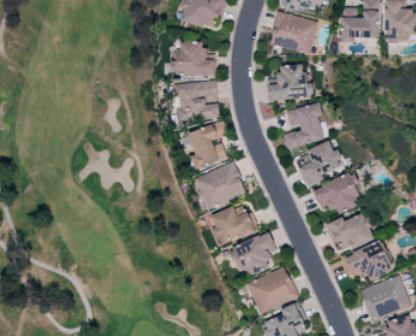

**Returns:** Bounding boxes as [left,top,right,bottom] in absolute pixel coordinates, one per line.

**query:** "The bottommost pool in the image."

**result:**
[397,235,416,250]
